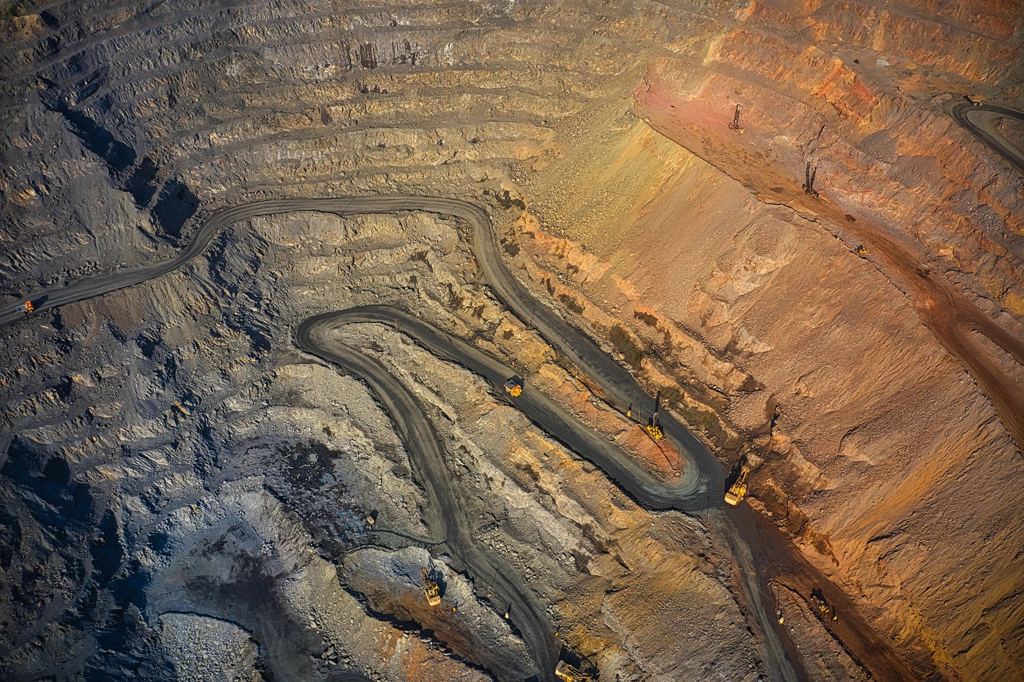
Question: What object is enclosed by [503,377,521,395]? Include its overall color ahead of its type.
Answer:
orange vehicle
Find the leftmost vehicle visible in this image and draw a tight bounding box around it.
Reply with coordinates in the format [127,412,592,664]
[13,299,34,313]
